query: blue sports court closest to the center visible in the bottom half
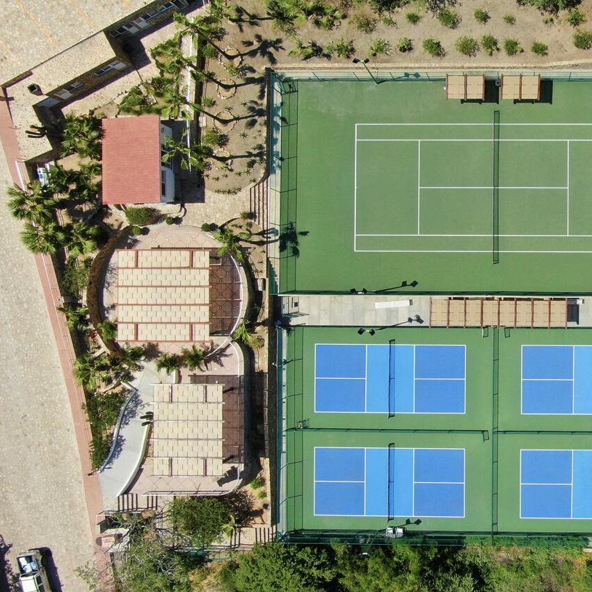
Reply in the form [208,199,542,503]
[314,344,466,414]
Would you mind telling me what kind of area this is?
sports ground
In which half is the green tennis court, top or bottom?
top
